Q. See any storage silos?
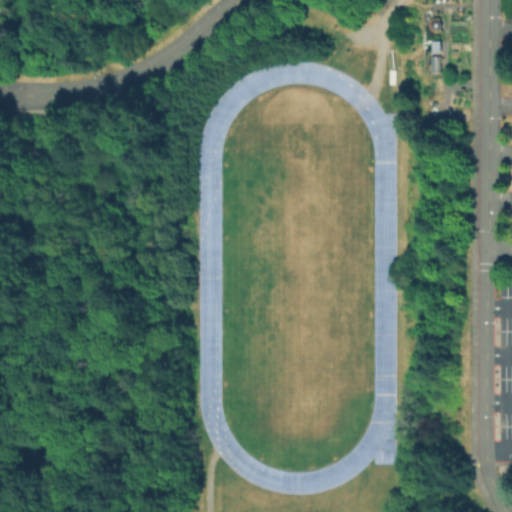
No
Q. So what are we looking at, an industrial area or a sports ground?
sports ground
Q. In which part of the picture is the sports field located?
center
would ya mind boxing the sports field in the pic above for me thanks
[222,84,376,472]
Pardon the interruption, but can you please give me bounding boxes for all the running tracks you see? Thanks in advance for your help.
[201,63,397,494]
